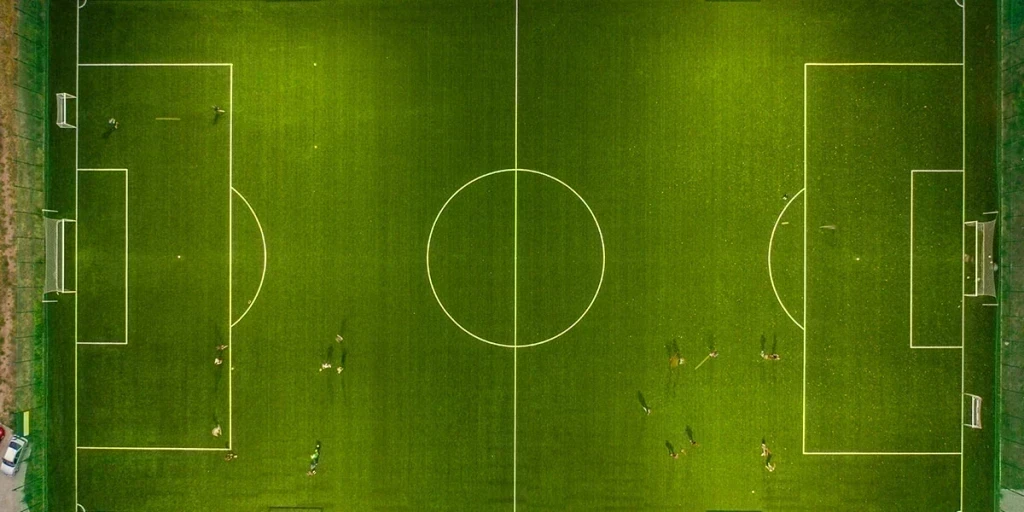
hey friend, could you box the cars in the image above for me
[0,423,7,445]
[0,434,29,475]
